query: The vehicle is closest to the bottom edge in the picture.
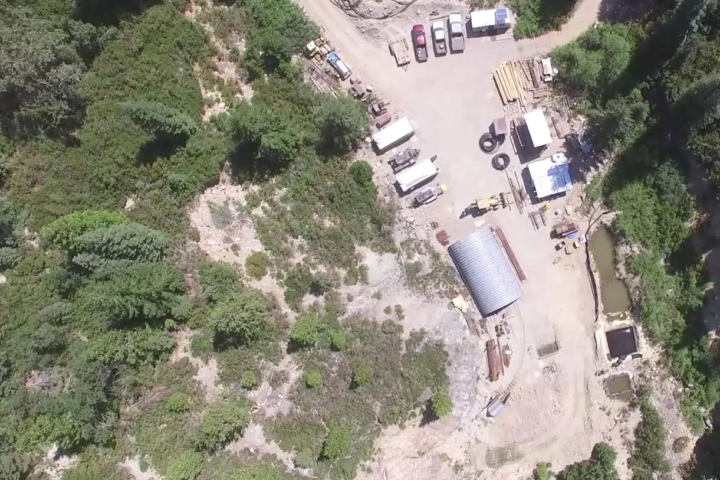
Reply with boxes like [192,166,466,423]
[552,218,578,238]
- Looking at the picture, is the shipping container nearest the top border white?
Yes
